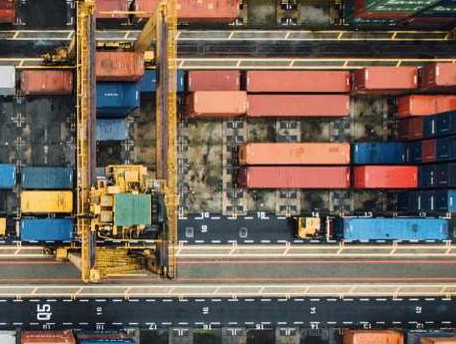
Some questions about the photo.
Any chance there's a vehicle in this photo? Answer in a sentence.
Yes, looking at the shot, I can spot a vehicle.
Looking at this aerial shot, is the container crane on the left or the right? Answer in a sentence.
It is on the left.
